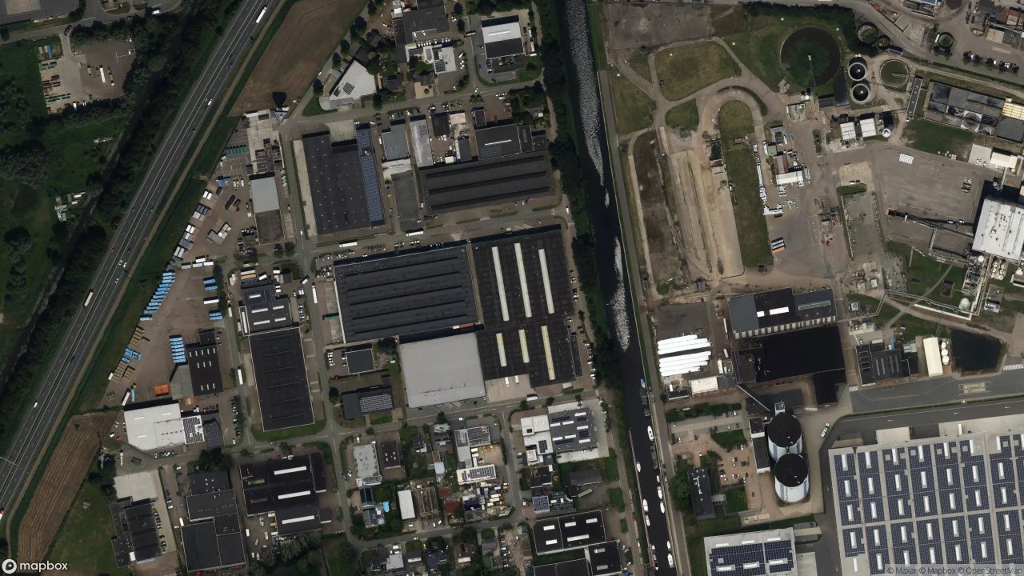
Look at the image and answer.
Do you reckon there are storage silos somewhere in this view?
Yes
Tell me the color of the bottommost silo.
black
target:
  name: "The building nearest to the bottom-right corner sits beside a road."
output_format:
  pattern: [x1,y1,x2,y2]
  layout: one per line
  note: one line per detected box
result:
[828,429,1024,576]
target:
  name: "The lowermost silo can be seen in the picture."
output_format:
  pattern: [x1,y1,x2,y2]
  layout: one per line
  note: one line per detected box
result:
[773,453,809,500]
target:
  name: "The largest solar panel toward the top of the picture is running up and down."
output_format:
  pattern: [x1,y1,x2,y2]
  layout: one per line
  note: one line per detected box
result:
[361,150,383,218]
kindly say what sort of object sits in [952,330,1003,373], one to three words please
pond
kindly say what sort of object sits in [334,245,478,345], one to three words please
building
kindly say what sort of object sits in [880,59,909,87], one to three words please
storage tank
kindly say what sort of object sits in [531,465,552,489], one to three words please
house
